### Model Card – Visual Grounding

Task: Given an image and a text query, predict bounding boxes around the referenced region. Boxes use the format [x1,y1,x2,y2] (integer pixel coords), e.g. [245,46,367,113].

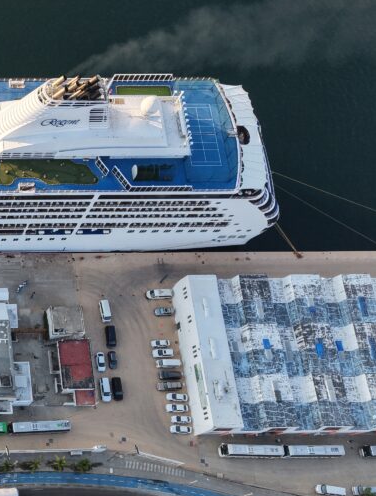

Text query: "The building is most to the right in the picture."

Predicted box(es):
[174,274,376,437]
